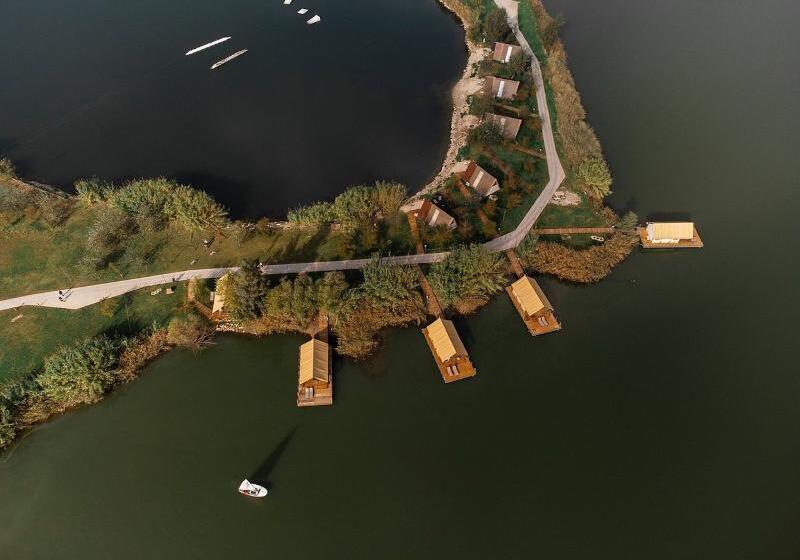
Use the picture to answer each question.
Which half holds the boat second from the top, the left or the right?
right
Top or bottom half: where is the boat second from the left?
bottom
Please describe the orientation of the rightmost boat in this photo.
from left to right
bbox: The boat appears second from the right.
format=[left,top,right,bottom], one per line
[505,274,562,337]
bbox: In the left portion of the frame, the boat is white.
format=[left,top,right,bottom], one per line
[238,478,267,495]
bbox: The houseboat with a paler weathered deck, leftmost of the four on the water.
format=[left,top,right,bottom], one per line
[297,337,334,406]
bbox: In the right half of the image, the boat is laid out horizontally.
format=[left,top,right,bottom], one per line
[638,222,703,249]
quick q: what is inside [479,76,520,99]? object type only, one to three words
building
